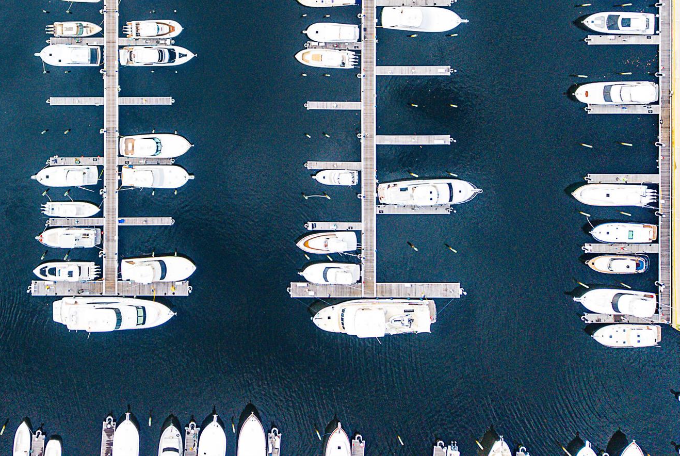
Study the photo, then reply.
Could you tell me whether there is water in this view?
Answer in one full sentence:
Yes, there's water in this view.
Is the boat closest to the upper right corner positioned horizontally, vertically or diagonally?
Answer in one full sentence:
The boat closest to the upper right corner has been laid out horizontally relative to the frame.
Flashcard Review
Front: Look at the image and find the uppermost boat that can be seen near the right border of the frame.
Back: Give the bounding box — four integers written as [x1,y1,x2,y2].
[581,11,655,35]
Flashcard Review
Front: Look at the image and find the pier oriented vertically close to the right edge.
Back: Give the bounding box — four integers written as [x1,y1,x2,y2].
[655,0,671,323]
